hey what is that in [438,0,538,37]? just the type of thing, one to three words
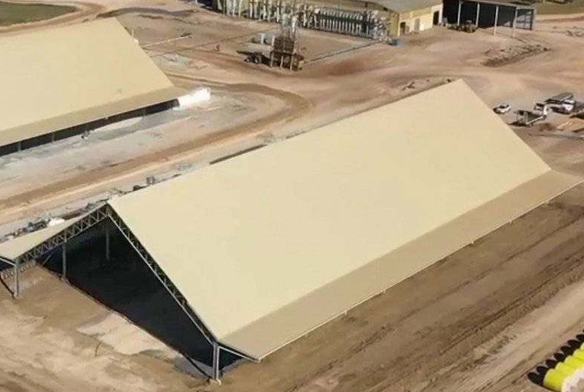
shed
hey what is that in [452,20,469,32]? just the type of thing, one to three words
vehicle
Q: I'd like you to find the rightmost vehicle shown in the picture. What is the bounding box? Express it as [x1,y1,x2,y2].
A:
[539,91,584,111]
